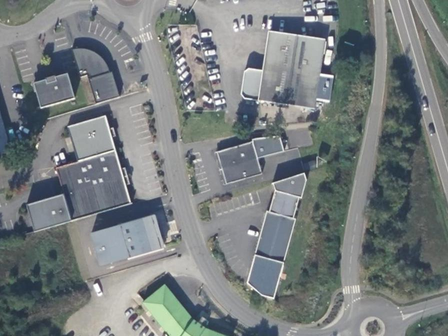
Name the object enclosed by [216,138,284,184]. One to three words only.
building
